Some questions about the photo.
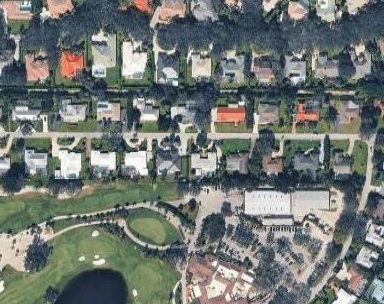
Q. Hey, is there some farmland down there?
No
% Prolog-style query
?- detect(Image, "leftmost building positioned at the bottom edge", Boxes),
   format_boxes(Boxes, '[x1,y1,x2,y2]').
[185,251,263,304]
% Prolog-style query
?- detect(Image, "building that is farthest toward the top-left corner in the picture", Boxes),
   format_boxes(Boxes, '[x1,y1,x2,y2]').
[0,0,35,18]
